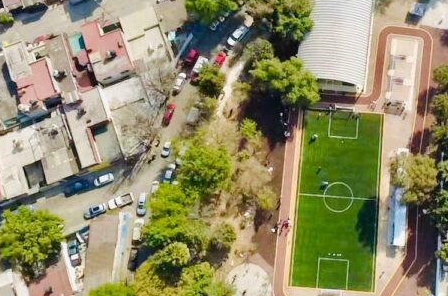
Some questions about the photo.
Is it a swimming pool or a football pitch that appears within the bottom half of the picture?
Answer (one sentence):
Visible within the bottom half of the picture is a football pitch.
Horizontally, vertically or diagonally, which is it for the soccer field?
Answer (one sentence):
The soccer field is laid out vertically.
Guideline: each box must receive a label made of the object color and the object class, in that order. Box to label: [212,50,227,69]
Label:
red car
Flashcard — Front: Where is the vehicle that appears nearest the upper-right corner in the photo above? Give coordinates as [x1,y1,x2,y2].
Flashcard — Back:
[224,25,249,47]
